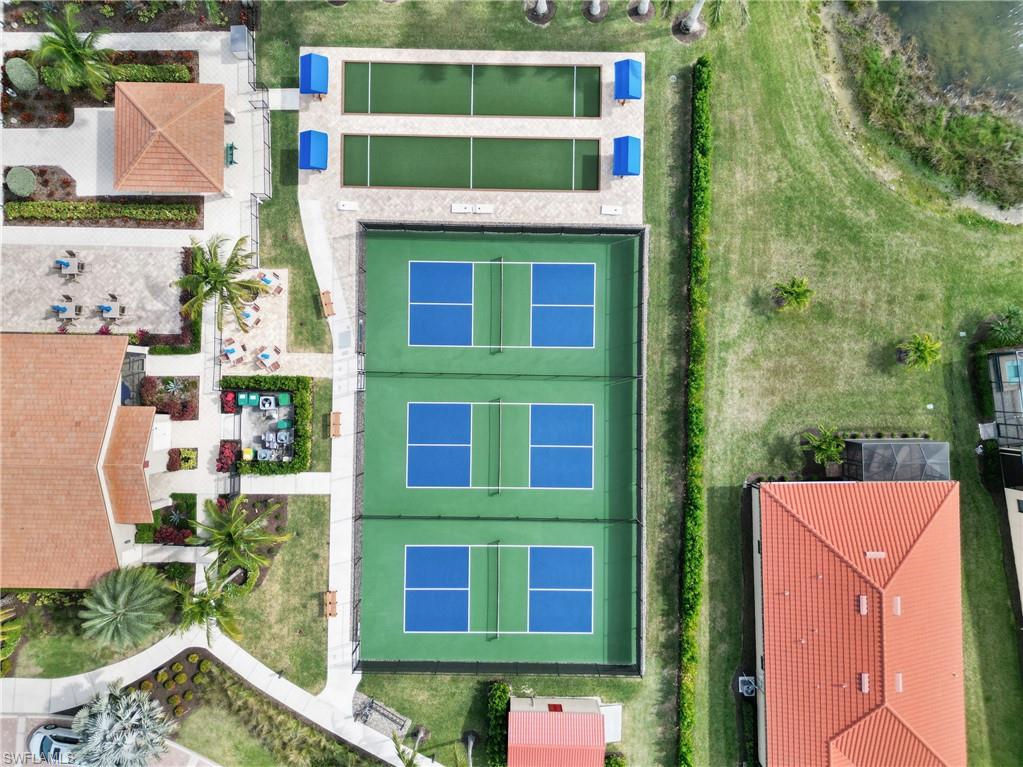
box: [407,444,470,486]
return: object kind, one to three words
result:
sports court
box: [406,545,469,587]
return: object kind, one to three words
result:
sports court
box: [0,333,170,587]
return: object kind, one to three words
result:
building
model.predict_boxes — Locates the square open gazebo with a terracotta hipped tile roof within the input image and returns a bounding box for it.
[112,81,240,204]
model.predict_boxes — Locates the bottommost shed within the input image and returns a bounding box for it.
[508,698,605,766]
